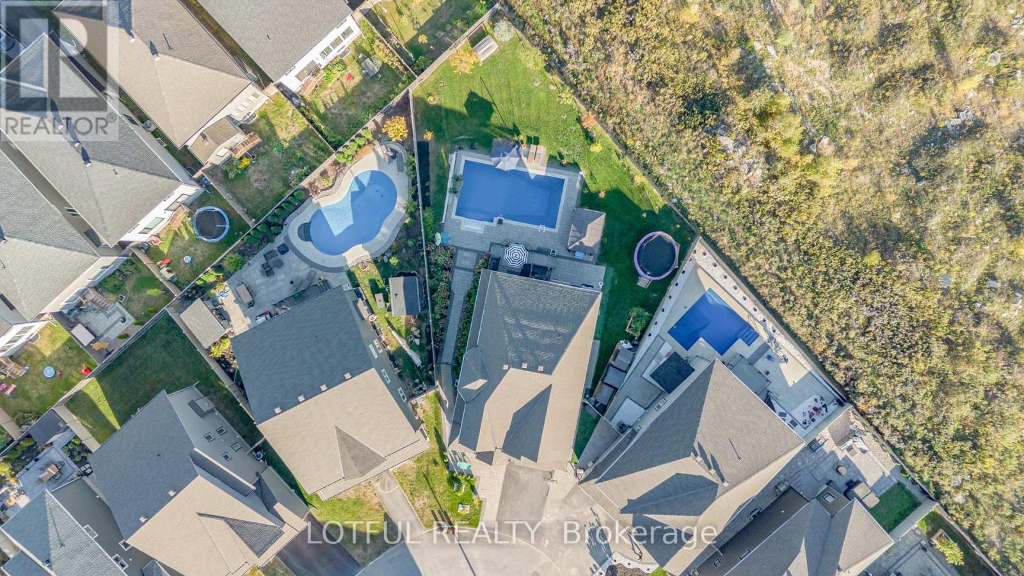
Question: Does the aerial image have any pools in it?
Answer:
Yes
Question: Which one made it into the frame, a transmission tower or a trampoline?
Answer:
trampoline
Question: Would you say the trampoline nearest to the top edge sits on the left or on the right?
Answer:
left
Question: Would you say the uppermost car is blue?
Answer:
Yes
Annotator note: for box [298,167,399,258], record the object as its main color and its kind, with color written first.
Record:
blue swimming pool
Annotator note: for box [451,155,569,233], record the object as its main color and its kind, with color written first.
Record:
blue swimming pool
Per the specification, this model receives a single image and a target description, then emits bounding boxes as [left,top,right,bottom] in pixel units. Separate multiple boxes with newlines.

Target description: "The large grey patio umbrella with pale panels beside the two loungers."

[490,142,520,172]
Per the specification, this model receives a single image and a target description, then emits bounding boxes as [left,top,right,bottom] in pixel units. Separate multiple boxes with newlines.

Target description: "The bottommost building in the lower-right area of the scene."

[688,485,894,576]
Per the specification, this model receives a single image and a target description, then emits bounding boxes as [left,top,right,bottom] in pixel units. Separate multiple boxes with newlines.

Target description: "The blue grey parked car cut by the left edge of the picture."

[0,28,24,63]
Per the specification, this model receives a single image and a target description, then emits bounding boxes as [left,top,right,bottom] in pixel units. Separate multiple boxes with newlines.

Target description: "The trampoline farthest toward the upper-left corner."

[185,203,231,243]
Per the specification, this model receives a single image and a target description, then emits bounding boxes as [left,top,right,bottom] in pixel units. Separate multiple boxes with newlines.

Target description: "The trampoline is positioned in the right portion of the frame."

[633,232,681,278]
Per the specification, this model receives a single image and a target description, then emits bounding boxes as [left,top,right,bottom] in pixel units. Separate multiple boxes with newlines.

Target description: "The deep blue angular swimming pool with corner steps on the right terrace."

[665,286,761,357]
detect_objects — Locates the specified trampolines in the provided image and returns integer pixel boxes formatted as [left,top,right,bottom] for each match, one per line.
[185,203,231,243]
[633,232,681,278]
